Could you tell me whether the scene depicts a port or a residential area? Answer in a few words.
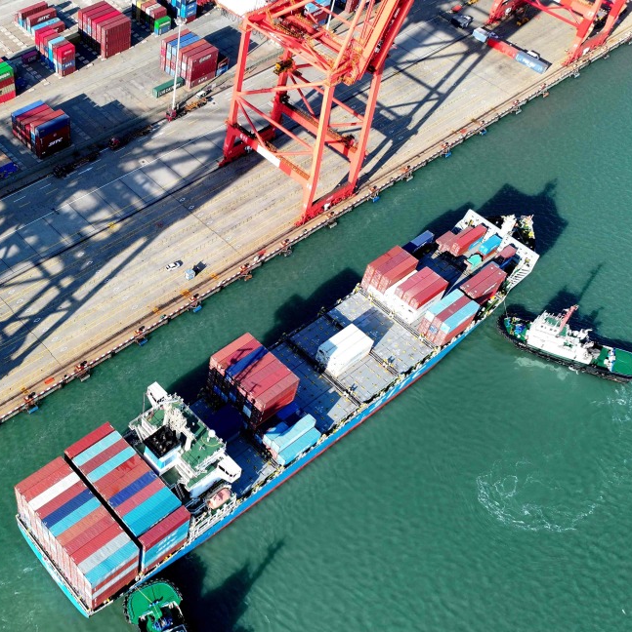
port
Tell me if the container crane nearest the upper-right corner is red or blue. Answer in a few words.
red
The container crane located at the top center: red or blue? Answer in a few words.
red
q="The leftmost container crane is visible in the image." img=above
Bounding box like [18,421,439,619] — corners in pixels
[203,0,420,230]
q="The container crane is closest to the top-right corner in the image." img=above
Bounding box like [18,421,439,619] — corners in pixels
[490,0,630,65]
